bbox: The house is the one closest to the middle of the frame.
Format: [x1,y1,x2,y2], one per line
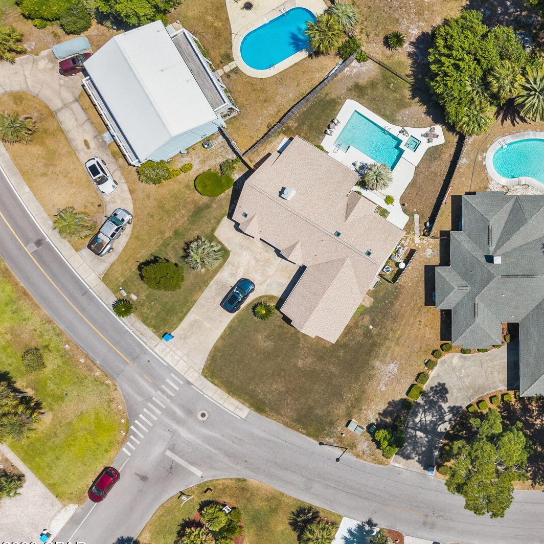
[232,135,406,344]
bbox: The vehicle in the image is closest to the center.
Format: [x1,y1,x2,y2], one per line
[220,277,256,315]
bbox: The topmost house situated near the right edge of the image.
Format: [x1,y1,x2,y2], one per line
[435,191,544,397]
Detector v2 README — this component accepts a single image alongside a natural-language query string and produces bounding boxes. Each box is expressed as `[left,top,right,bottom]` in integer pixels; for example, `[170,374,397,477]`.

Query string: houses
[435,191,544,397]
[232,135,406,344]
[78,19,238,167]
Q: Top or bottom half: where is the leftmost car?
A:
top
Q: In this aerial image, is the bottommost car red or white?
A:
red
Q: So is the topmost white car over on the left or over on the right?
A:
left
